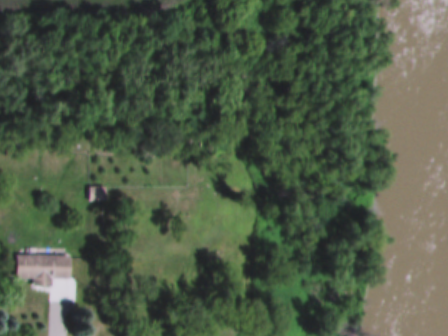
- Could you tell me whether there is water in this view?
Yes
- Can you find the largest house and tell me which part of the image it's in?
bottom left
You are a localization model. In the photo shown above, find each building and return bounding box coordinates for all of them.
[16,248,72,286]
[88,186,106,202]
